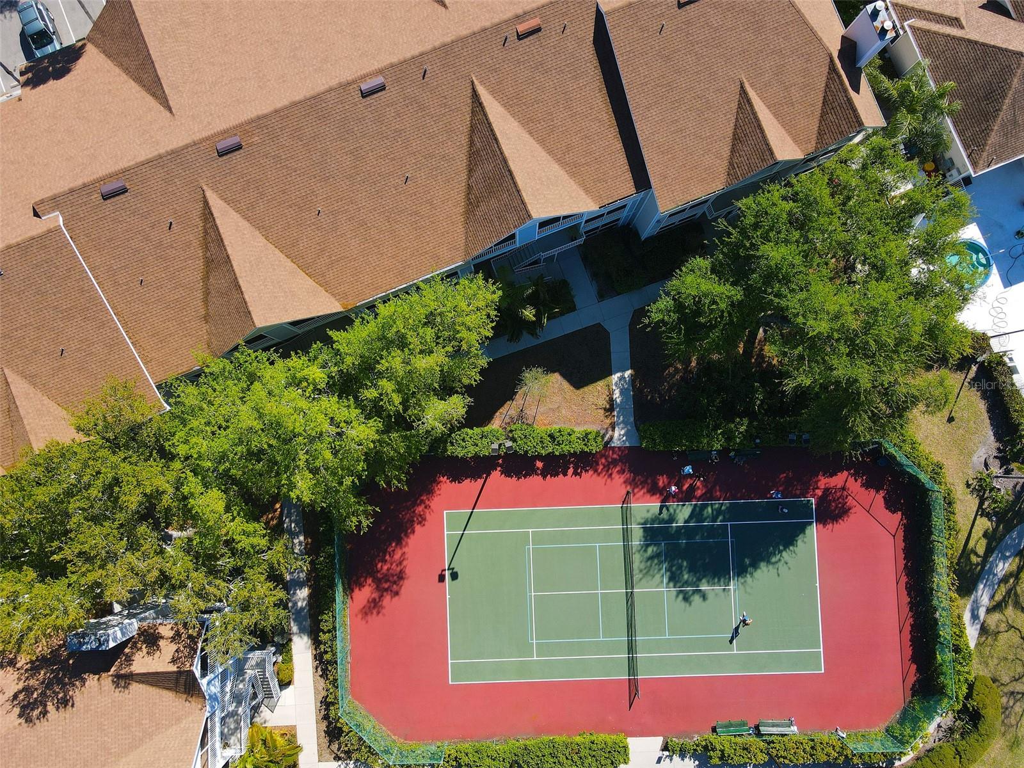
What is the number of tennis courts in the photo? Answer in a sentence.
Only 1 tennis court is visible.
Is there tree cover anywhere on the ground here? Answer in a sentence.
Yes, the picture does contain tree cover.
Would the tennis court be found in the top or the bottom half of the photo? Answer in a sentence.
It is in the bottom half that the tennis court appears.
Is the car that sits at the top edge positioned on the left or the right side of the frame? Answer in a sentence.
It is on the left.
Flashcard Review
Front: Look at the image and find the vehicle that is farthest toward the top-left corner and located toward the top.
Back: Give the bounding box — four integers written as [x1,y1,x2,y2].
[22,0,70,54]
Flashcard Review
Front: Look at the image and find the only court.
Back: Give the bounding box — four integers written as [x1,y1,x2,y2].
[349,443,932,745]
